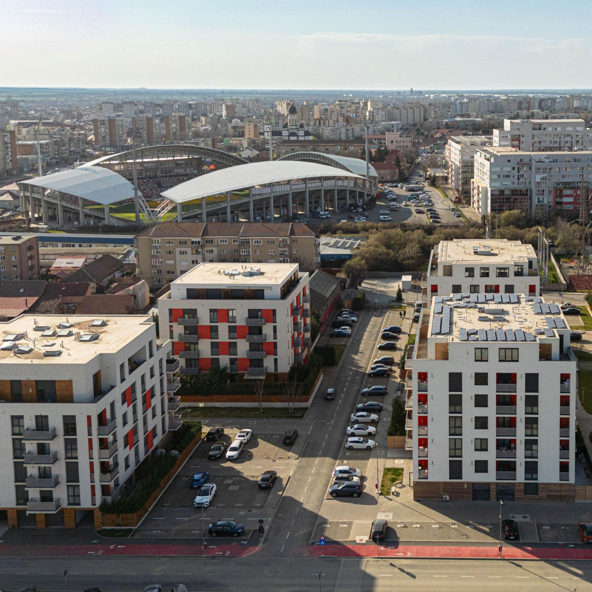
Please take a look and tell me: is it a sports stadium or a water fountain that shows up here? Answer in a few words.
sports stadium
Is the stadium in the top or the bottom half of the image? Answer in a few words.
top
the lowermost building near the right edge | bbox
[400,294,580,502]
